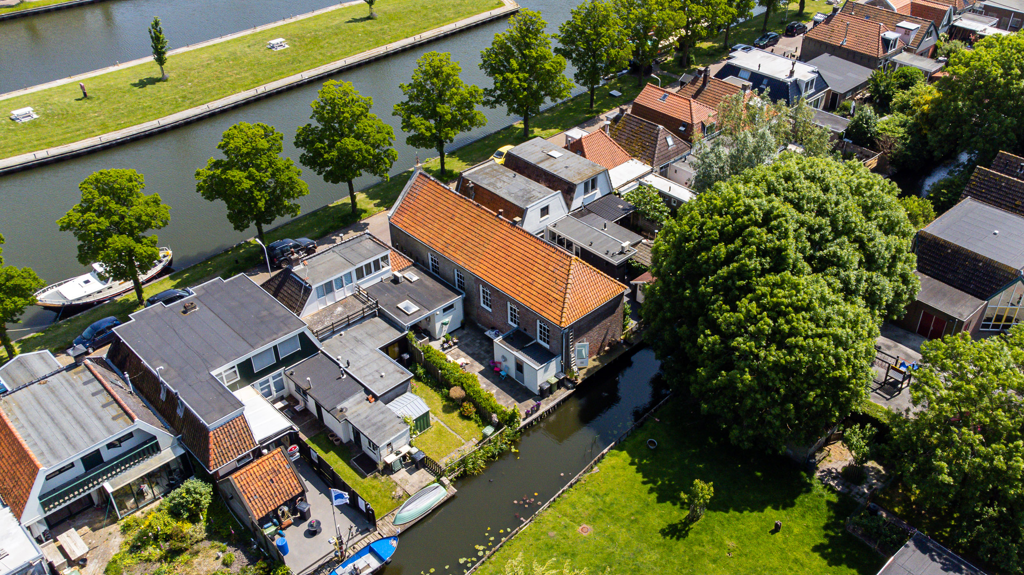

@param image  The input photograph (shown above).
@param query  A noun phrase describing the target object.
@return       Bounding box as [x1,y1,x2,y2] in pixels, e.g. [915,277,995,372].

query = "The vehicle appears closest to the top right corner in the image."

[784,19,807,35]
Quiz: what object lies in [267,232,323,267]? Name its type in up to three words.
car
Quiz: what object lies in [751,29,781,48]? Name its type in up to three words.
car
